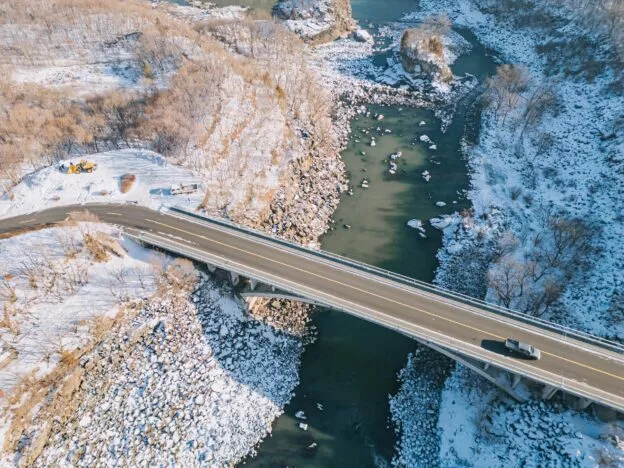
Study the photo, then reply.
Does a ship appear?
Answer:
No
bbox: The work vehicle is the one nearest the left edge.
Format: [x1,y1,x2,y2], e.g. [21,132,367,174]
[65,157,101,175]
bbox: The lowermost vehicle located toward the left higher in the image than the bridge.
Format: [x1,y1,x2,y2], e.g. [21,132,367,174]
[170,180,197,194]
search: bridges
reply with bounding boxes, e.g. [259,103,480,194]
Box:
[118,199,624,430]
